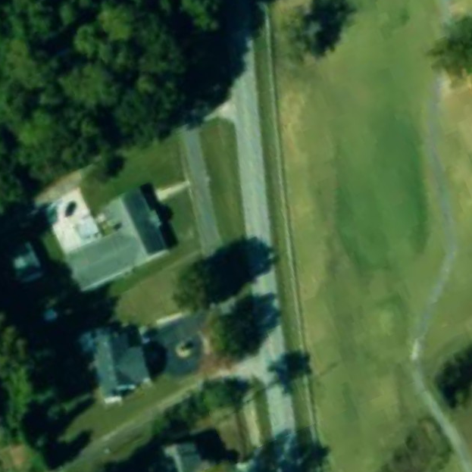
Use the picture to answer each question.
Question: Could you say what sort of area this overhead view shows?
golf course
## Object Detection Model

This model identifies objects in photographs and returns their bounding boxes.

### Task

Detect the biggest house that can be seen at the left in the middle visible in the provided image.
[66,192,167,293]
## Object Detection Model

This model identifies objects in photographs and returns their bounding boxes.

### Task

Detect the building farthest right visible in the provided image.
[153,442,189,472]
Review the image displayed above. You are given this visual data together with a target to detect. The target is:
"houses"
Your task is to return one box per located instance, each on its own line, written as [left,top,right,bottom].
[95,330,151,400]
[66,192,167,293]
[153,442,189,472]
